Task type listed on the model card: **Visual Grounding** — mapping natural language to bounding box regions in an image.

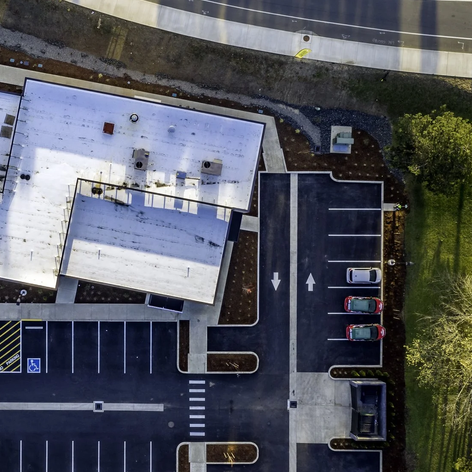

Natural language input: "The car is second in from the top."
[343,296,381,316]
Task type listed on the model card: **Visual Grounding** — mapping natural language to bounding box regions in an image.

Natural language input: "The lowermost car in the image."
[344,323,382,343]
